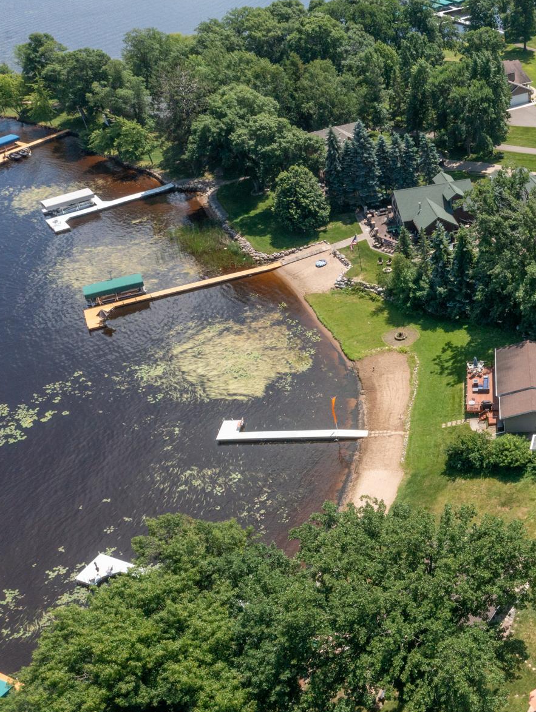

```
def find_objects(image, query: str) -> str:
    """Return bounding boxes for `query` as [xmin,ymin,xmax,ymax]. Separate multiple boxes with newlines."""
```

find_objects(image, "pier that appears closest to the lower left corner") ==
[74,552,150,590]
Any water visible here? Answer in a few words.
Yes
